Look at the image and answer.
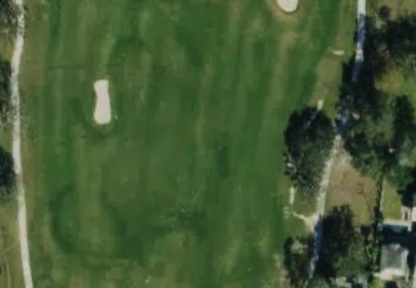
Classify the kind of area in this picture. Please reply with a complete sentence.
The picture captures a golf course.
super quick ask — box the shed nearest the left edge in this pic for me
[381,245,408,276]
